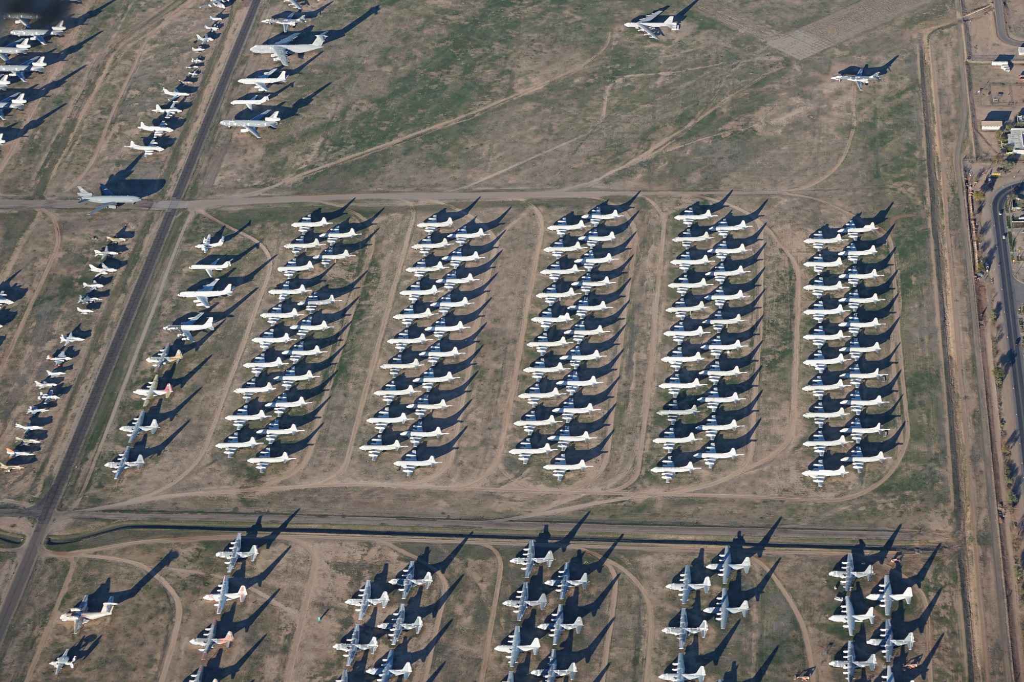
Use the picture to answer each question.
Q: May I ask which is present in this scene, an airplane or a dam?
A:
airplane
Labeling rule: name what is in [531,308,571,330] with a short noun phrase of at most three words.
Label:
airplane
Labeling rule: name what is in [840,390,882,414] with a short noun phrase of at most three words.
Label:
airplane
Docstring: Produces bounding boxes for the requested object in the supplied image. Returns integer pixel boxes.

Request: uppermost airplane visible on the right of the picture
[624,11,676,38]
